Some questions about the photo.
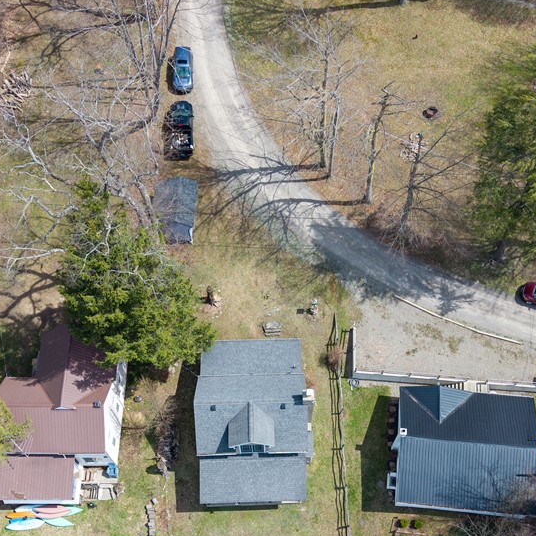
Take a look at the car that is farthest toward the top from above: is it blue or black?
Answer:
blue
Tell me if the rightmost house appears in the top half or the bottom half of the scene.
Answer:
bottom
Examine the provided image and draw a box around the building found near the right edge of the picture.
[385,384,536,519]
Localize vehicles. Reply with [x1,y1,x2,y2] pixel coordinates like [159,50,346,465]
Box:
[519,279,536,304]
[167,44,192,86]
[165,102,192,157]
